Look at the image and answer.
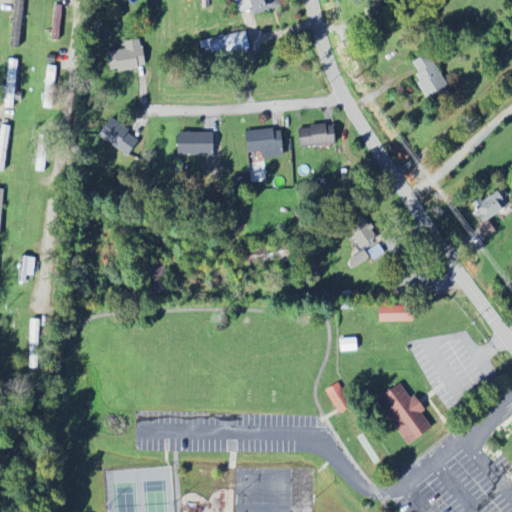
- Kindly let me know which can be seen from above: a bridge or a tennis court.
tennis court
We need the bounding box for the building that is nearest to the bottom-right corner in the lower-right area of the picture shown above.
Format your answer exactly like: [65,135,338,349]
[380,384,432,444]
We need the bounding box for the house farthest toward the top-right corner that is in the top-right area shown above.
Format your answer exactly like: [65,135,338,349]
[414,54,449,96]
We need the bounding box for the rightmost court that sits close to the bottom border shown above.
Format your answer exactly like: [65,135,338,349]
[236,467,292,512]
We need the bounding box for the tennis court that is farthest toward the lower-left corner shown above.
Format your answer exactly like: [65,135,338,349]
[113,484,138,512]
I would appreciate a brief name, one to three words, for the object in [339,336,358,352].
shed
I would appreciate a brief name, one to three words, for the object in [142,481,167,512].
tennis court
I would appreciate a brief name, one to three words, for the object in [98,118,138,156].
house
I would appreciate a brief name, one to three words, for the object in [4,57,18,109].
house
